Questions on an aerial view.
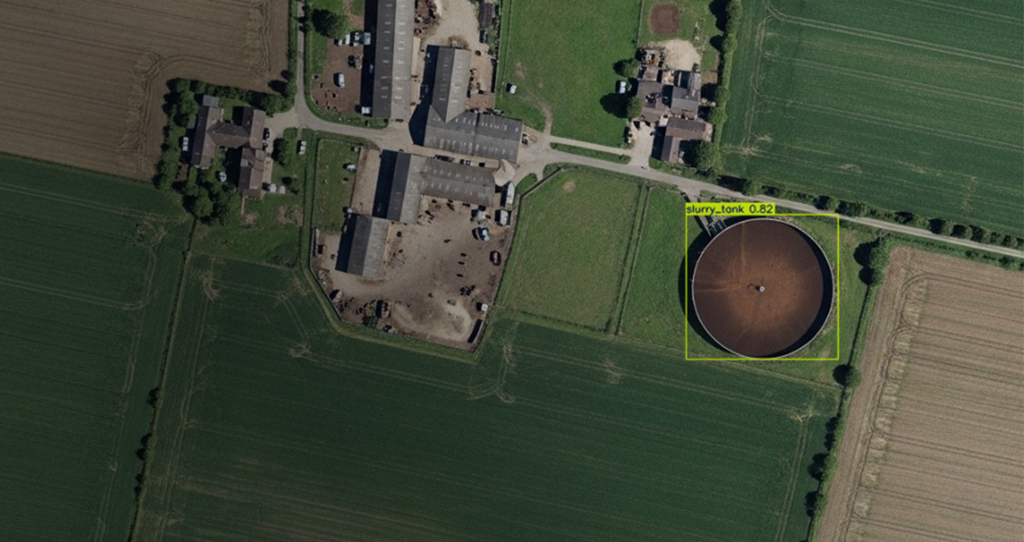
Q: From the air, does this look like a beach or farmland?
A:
farmland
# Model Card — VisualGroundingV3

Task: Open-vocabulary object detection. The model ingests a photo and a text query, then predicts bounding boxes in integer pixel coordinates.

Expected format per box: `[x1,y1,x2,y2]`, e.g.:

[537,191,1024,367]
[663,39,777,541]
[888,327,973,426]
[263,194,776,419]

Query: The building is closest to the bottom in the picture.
[346,213,390,280]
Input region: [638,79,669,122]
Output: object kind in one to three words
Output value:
house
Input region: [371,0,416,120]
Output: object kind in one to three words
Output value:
barn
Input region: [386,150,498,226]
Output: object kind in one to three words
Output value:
barn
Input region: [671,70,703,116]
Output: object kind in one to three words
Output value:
house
